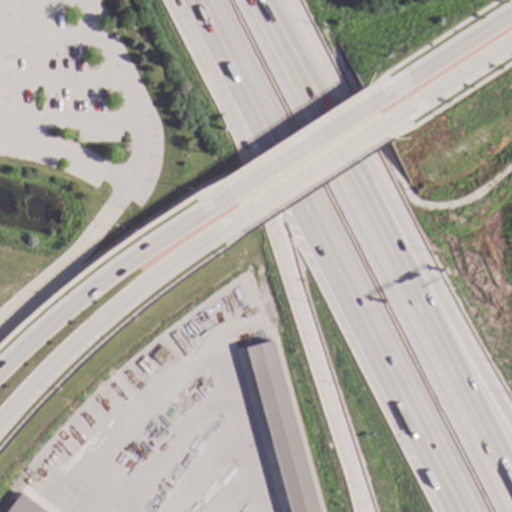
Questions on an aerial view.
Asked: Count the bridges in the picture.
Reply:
1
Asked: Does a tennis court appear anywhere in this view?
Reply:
No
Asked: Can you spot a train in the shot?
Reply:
No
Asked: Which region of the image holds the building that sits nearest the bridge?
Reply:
bottom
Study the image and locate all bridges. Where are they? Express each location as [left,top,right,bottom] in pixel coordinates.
[243,86,393,224]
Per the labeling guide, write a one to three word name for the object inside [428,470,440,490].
vehicle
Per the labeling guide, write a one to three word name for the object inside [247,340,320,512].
building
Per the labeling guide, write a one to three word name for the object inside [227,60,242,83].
vehicle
